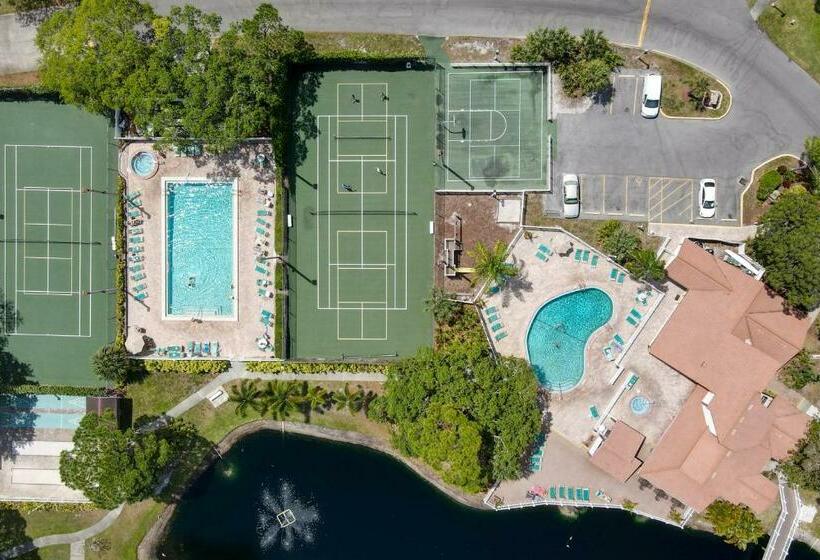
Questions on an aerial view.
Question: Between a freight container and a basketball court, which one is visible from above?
basketball court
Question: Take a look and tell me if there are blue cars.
No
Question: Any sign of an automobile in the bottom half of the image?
No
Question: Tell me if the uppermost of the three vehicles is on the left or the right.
right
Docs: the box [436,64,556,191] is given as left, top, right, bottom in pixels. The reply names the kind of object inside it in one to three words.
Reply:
basketball court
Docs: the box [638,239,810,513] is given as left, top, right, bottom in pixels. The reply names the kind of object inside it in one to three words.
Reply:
building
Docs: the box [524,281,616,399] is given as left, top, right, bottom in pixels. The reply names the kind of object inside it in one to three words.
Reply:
swimming pool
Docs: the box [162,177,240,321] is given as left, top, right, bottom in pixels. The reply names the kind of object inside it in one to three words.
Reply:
swimming pool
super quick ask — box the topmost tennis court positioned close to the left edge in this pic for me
[0,101,114,384]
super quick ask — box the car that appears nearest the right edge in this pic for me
[697,179,718,218]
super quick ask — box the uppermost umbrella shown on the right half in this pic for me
[553,238,571,256]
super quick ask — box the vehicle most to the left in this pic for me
[562,175,581,218]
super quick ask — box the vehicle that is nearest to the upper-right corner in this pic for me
[641,75,663,119]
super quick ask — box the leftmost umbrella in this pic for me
[125,333,146,353]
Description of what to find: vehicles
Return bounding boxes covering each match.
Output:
[641,75,663,119]
[562,175,581,218]
[697,179,718,218]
